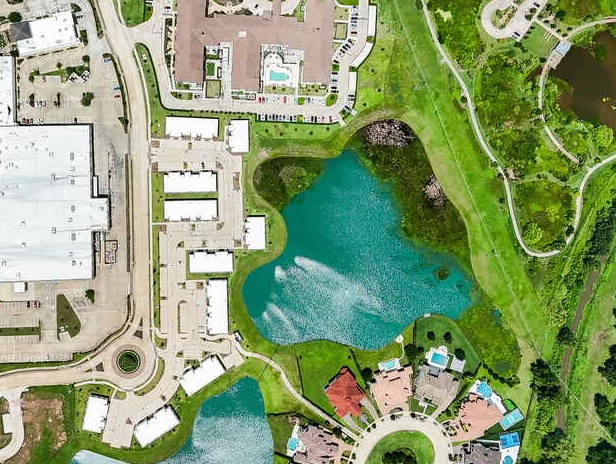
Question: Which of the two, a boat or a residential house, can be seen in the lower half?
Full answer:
The one visible in the lower half is a residential house.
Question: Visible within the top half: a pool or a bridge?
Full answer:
The feature located within the top half is a pool.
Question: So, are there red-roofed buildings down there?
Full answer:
Yes, a red-roofed building is visible in the scene.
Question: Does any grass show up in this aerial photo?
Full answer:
Yes, the picture does contain grass.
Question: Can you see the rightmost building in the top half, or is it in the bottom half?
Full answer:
It is in the top half that the rightmost building appears.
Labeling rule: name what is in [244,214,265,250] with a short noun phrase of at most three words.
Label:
building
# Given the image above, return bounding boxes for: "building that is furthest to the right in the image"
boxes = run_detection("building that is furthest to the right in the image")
[546,39,573,69]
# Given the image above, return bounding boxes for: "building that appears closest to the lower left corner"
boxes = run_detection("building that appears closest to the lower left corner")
[82,393,109,432]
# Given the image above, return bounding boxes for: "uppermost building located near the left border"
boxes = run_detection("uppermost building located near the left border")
[10,10,82,58]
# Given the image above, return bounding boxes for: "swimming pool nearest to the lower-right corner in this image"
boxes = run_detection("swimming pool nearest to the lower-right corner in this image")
[500,445,520,464]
